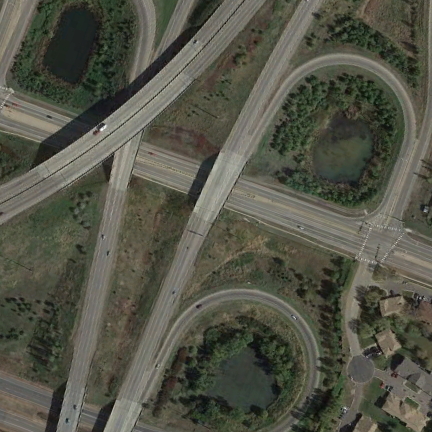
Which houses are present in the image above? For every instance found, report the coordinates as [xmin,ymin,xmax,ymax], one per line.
[347,414,378,432]
[416,299,432,324]
[390,353,432,399]
[382,391,430,431]
[376,330,403,356]
[380,296,407,315]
